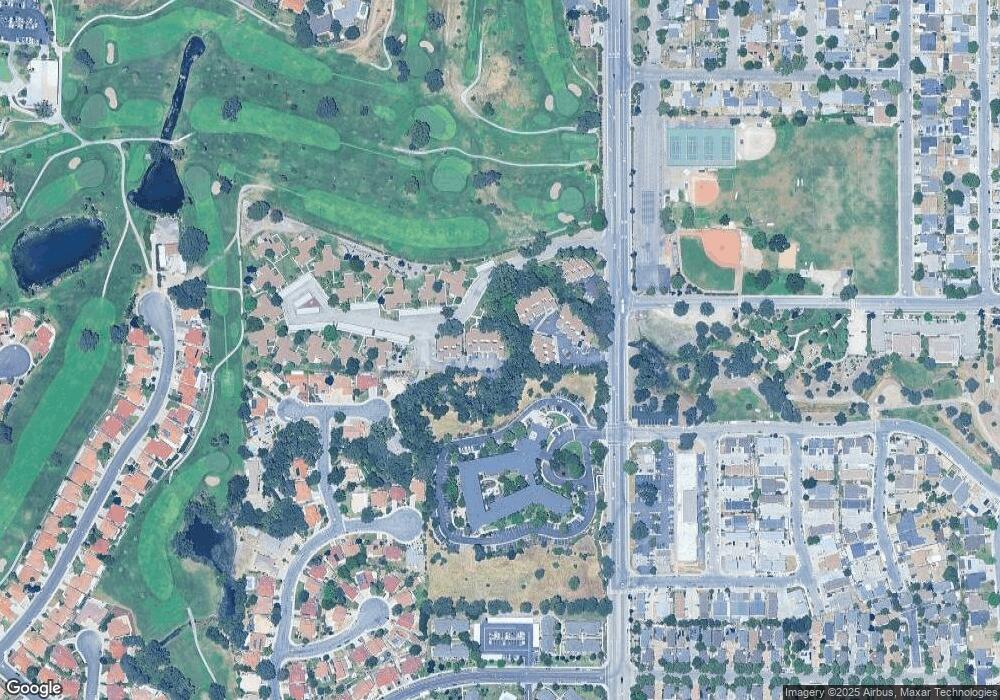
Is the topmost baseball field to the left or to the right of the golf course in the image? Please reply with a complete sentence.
The topmost baseball field is to the right of the golf course.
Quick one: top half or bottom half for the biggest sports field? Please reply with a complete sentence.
The biggest sports field sits in the top half of the picture.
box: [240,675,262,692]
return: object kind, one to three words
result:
house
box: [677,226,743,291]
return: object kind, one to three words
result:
baseball field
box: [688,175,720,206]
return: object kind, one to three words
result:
baseball field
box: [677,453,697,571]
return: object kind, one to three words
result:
building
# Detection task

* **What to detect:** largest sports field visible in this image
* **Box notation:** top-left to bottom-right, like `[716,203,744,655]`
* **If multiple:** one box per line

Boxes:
[693,121,897,295]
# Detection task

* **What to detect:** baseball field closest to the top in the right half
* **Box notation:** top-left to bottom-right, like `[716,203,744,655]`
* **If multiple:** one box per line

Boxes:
[736,119,776,160]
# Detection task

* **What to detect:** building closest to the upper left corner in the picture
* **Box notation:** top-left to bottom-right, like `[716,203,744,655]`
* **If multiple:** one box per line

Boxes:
[27,59,58,105]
